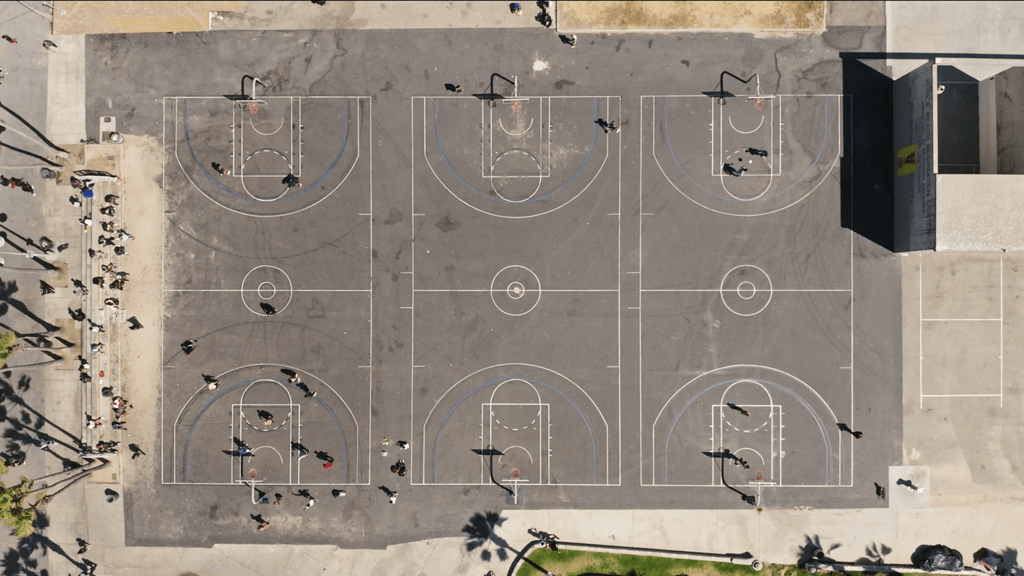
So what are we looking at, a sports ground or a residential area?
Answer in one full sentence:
It's a sports ground.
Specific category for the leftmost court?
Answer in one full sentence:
In the photo, the leftmost court shows up as a basketball court.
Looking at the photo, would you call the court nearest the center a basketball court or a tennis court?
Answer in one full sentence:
Specifically, the court nearest the center is a basketball court.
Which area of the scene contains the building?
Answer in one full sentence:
You can find the building in the top right area of the picture.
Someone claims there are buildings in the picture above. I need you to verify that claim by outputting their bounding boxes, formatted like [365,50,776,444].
[894,57,1024,256]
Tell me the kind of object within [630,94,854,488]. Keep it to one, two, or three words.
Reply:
basketball court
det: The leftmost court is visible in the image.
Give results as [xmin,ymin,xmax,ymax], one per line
[162,95,373,486]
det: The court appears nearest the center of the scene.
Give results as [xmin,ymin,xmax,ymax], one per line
[400,95,623,487]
